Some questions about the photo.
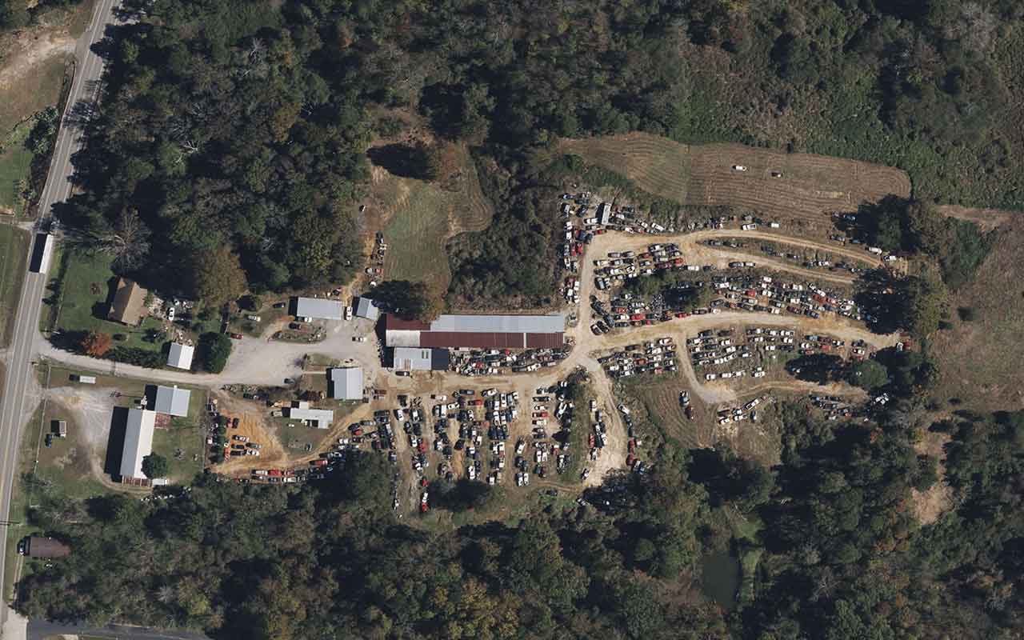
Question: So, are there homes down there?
Yes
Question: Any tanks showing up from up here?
No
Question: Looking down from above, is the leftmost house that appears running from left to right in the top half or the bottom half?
bottom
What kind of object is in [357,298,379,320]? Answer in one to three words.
barn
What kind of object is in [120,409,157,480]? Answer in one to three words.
barn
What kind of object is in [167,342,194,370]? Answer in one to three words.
shed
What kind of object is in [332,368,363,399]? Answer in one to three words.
building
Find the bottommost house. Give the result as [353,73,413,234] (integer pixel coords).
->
[30,537,71,557]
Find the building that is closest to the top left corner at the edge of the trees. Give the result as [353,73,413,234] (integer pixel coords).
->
[107,278,148,325]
